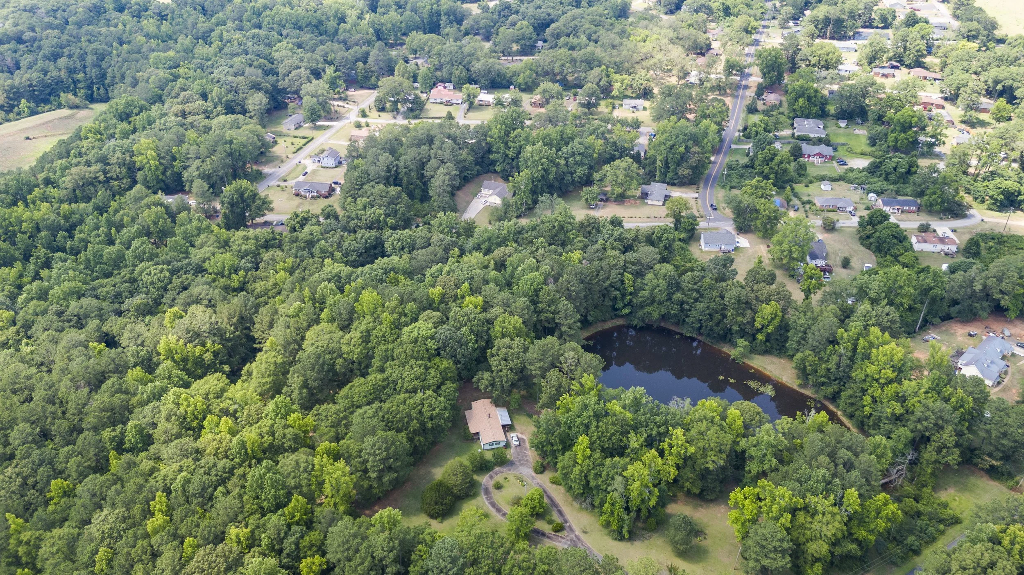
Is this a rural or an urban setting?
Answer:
rural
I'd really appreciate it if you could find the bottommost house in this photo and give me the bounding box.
[463,398,512,450]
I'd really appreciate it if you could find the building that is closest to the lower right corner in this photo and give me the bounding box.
[950,343,1024,389]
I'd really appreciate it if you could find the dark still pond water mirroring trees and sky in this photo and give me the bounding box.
[577,323,855,439]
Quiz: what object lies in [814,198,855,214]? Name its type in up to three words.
house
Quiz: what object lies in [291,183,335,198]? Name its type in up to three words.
house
